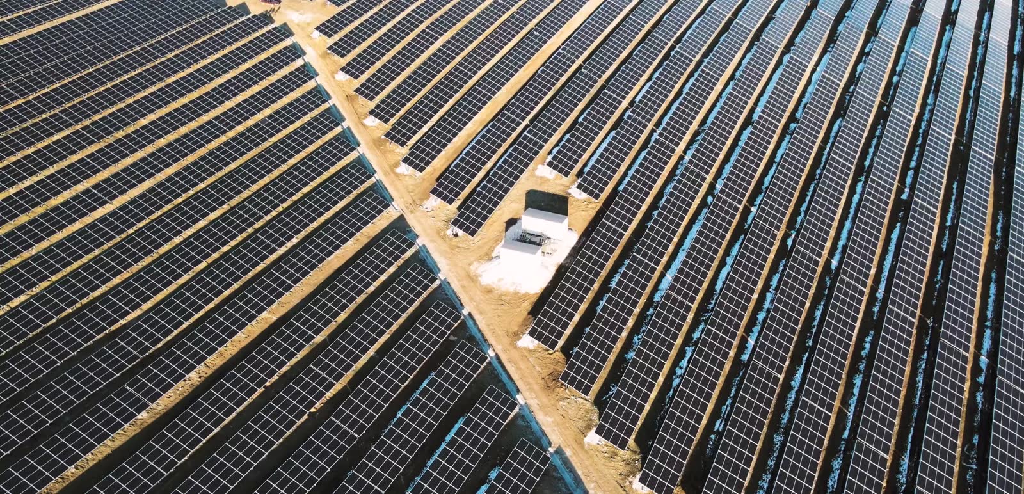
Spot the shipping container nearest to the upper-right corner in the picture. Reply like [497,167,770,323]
[523,207,566,237]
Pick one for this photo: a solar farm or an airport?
solar farm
